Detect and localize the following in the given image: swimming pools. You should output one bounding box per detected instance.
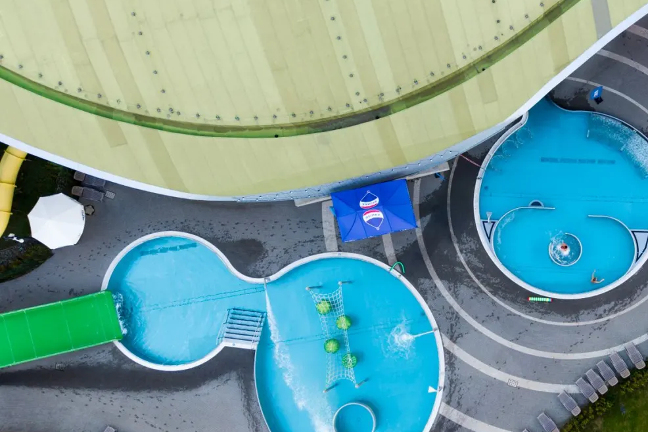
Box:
[473,92,648,300]
[103,231,446,432]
